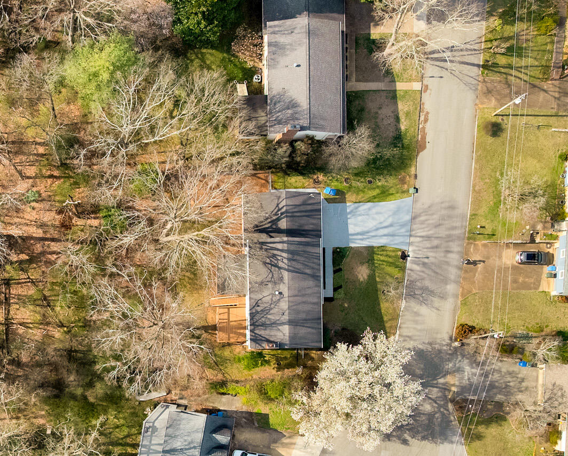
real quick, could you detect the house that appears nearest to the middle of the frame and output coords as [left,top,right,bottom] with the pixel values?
[208,192,333,350]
